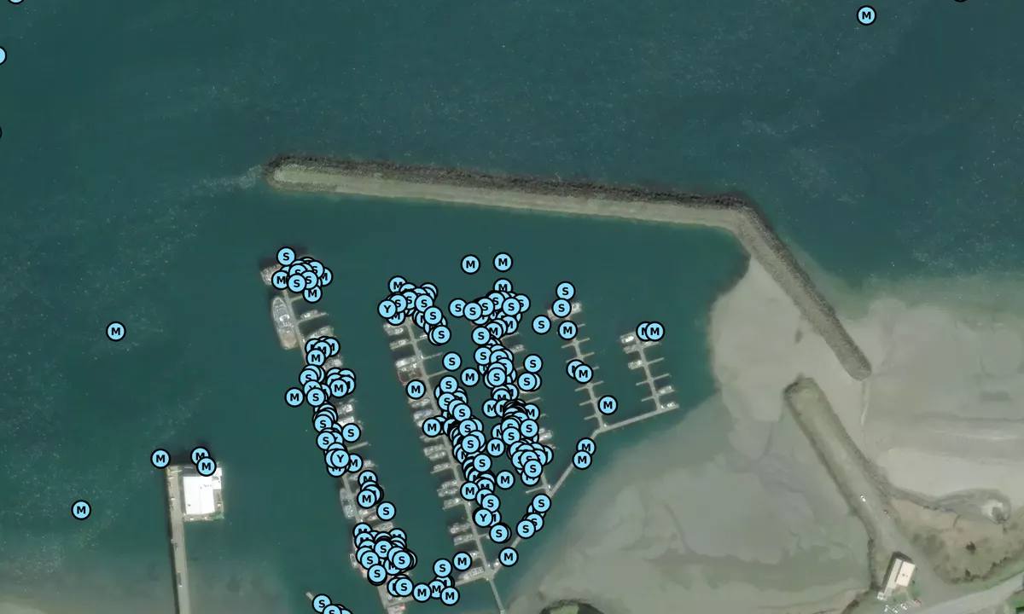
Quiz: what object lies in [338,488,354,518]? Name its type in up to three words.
boat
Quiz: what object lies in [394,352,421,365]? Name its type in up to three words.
boat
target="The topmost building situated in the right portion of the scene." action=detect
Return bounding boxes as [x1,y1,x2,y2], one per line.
[884,558,915,595]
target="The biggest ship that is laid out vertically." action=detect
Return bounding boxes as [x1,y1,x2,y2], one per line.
[272,297,296,351]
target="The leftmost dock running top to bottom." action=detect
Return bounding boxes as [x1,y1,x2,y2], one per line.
[166,466,224,614]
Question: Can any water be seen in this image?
Yes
